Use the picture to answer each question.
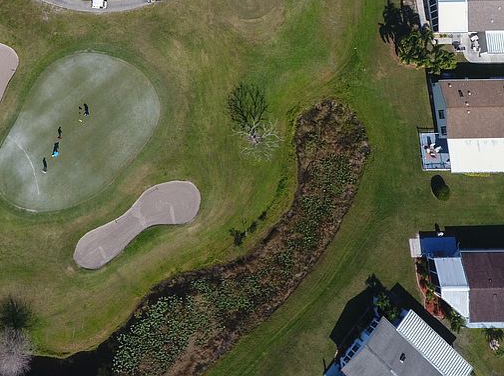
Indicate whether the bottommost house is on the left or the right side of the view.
right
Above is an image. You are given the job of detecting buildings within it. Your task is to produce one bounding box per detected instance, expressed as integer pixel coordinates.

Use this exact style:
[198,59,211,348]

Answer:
[422,247,504,344]
[318,305,474,376]
[422,0,504,55]
[421,79,504,173]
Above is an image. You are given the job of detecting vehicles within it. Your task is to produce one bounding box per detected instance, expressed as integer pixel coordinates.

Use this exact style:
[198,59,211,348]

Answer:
[90,0,109,10]
[143,0,161,6]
